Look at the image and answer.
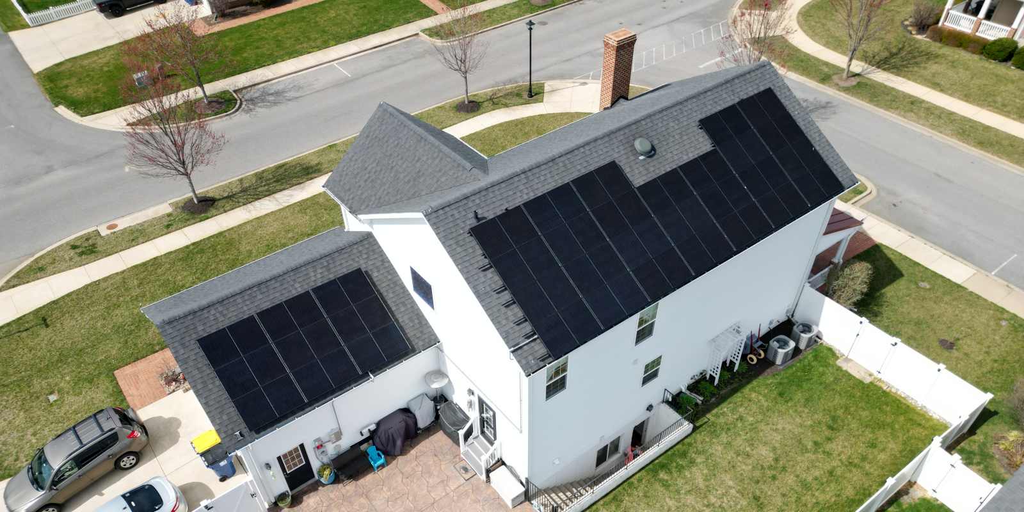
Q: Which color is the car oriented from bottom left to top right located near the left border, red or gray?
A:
gray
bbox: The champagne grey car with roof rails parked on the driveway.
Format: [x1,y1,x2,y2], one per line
[0,402,154,512]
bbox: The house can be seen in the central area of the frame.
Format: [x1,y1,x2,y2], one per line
[141,34,860,506]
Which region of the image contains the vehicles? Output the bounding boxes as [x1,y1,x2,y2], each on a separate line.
[93,0,170,14]
[73,474,188,512]
[0,402,154,512]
